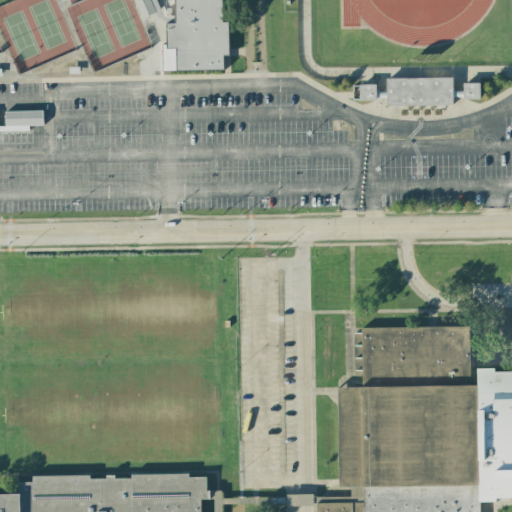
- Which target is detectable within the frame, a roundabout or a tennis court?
tennis court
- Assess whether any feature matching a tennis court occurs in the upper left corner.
Yes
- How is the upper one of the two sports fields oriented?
horizontally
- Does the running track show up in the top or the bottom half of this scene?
top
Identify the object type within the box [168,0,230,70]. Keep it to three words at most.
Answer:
building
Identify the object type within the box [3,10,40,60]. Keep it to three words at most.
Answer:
tennis court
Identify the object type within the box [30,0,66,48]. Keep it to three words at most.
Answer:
tennis court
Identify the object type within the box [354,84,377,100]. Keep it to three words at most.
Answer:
building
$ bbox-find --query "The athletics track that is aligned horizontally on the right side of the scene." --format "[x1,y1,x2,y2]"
[342,0,496,48]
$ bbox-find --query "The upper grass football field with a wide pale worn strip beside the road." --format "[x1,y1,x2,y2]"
[2,259,220,358]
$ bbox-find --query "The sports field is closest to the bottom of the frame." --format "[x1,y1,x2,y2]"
[3,359,220,461]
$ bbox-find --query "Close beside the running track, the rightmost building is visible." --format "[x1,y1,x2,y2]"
[386,77,454,108]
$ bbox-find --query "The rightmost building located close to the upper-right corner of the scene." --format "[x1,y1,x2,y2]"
[464,82,482,100]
